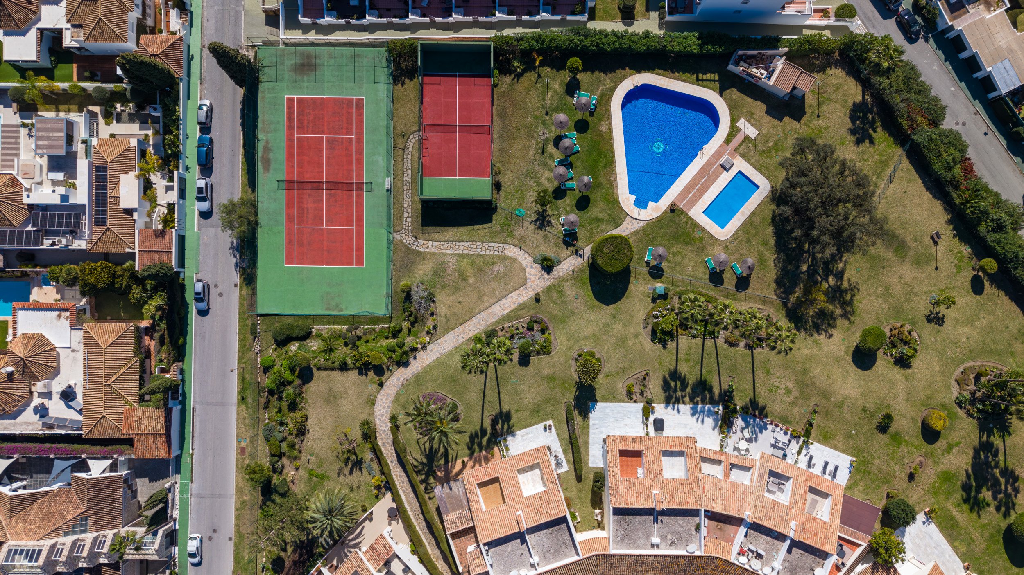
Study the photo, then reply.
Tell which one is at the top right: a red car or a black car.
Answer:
black car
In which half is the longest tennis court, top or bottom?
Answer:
top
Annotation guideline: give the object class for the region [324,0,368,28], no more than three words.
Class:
house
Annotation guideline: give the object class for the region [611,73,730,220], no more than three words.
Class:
swimming pool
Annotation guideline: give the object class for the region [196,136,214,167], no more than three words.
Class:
car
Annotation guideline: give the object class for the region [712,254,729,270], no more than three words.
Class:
umbrella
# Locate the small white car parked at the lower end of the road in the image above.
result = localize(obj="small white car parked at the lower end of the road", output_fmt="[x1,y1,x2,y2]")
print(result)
[187,534,204,563]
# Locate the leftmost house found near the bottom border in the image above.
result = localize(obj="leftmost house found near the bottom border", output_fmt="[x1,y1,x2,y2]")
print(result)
[0,466,177,575]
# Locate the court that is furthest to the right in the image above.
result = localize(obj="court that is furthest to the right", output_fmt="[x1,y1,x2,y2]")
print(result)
[418,38,493,201]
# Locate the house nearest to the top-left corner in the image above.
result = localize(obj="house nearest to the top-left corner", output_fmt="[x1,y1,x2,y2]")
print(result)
[0,0,192,81]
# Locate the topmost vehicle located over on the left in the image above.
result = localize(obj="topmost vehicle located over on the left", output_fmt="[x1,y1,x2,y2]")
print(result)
[196,100,213,128]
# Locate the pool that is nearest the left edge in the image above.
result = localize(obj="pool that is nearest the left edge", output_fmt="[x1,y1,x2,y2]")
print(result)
[0,280,33,316]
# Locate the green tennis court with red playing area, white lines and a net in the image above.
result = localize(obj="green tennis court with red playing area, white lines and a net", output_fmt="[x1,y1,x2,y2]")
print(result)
[257,46,392,315]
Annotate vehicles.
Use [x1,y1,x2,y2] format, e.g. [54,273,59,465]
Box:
[187,534,204,563]
[195,179,213,212]
[196,100,213,128]
[196,136,214,167]
[193,281,211,310]
[896,8,922,36]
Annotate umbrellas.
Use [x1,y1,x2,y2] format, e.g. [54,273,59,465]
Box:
[551,166,568,183]
[650,246,667,263]
[712,254,729,270]
[558,139,574,155]
[740,258,757,275]
[575,174,592,191]
[561,212,578,229]
[552,114,569,130]
[574,97,591,114]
